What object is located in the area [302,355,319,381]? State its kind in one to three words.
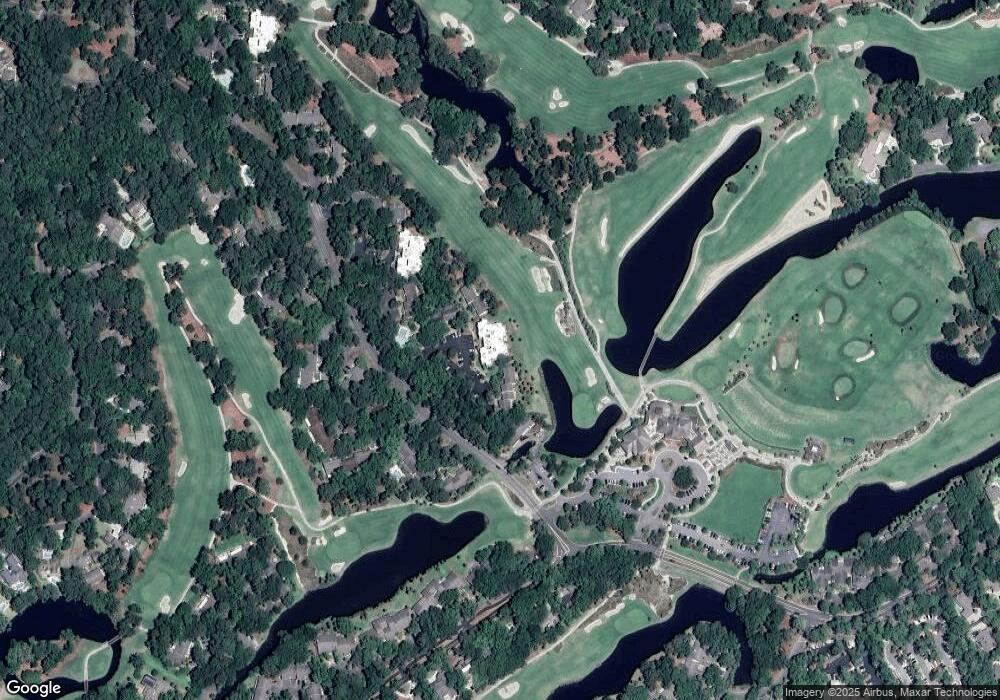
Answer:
house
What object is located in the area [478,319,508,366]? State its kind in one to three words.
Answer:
building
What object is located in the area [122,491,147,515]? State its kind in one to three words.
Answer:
house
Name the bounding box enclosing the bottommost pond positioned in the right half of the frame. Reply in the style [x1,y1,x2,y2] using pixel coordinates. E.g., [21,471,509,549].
[546,586,752,700]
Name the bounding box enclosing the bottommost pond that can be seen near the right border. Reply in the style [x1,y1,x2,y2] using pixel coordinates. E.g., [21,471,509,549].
[755,442,1000,582]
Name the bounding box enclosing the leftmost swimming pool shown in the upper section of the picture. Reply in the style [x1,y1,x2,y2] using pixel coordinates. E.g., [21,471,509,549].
[119,230,135,248]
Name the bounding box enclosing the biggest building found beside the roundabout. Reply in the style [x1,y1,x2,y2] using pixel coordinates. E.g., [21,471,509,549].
[646,400,709,449]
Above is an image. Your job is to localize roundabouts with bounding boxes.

[632,449,711,551]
